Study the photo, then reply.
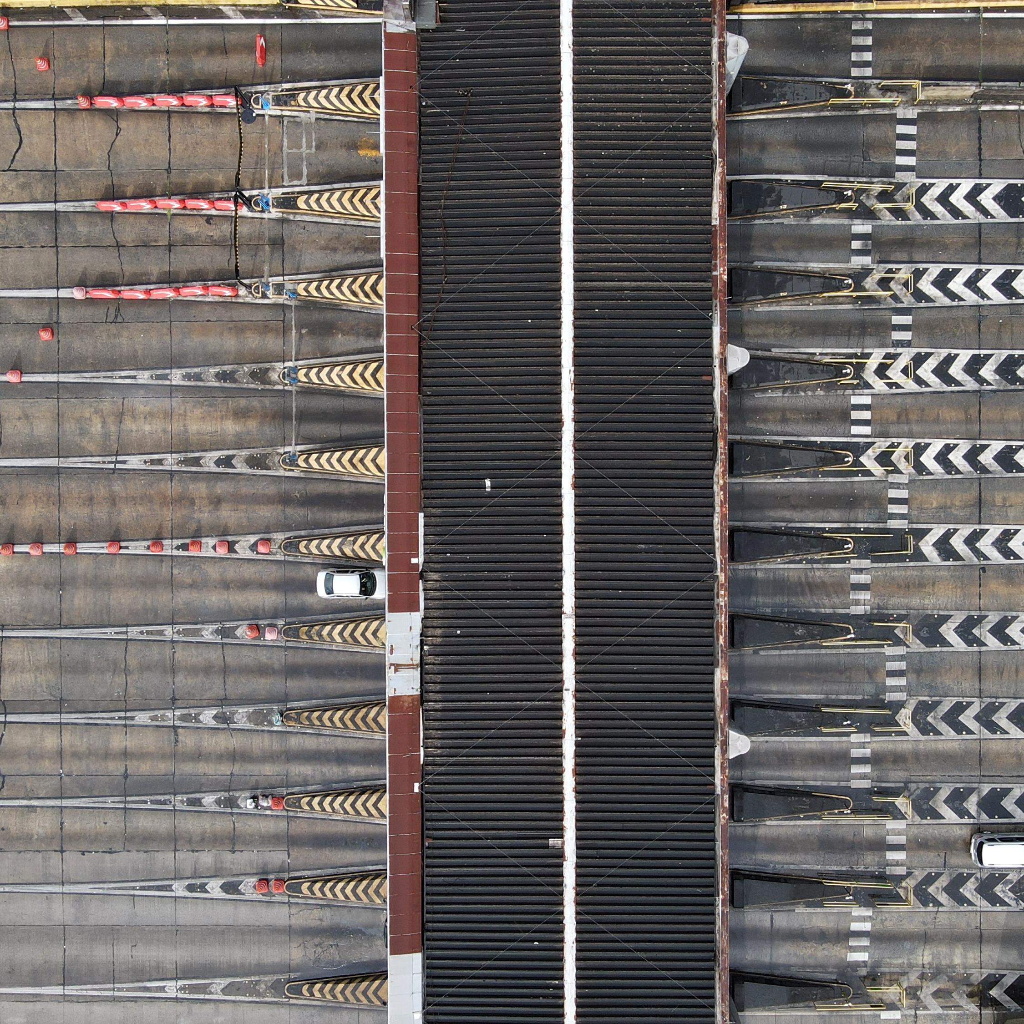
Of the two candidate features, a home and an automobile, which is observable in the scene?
automobile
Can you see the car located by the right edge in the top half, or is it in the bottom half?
bottom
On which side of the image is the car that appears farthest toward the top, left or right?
left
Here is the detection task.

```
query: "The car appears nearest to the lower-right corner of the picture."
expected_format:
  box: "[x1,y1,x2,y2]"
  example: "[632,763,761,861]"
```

[967,830,1024,868]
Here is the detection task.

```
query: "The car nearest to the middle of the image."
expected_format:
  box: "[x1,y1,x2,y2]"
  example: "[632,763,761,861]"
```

[317,566,385,600]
